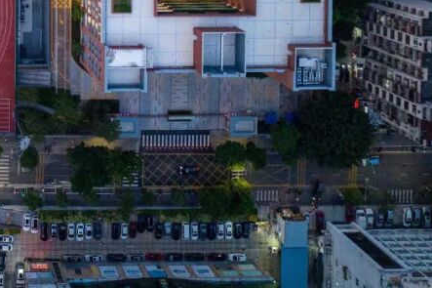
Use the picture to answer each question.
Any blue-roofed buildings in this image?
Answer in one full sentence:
Yes, the photo shows a blue-roofed building.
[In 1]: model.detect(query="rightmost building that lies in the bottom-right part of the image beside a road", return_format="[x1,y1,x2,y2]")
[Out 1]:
[329,220,432,288]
